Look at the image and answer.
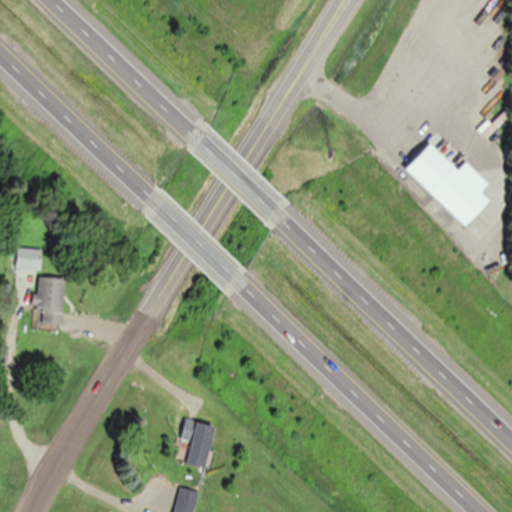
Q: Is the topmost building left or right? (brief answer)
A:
right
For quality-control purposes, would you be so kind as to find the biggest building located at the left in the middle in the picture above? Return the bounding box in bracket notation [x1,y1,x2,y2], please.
[32,277,65,331]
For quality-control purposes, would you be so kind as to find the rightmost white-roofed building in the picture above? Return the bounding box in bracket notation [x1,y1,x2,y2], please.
[405,144,492,228]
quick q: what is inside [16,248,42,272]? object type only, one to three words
building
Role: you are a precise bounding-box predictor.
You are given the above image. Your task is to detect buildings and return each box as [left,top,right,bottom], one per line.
[16,248,42,272]
[174,419,215,468]
[175,487,198,512]
[405,144,492,228]
[32,277,65,331]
